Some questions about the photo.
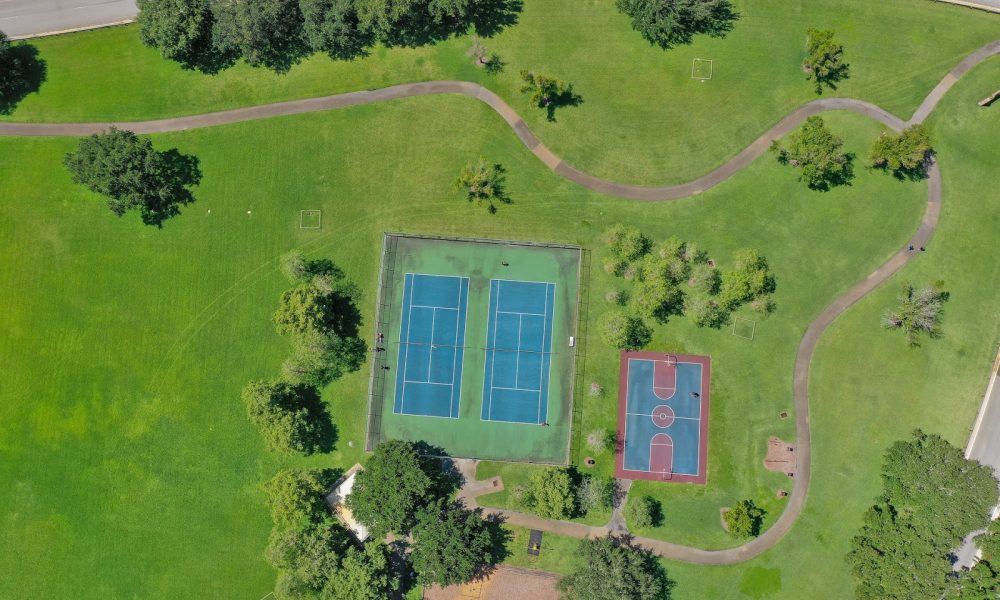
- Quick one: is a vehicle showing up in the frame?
No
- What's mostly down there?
grass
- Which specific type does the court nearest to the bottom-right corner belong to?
basketball court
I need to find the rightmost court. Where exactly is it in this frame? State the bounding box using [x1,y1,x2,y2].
[615,351,710,485]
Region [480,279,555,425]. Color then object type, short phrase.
blue tennis court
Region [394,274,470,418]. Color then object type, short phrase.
blue tennis court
